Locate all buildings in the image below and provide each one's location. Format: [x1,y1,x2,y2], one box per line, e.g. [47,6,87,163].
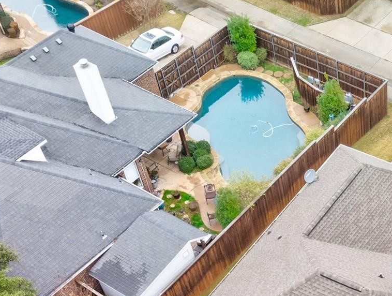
[0,19,198,296]
[209,144,392,296]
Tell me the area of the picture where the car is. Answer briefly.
top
